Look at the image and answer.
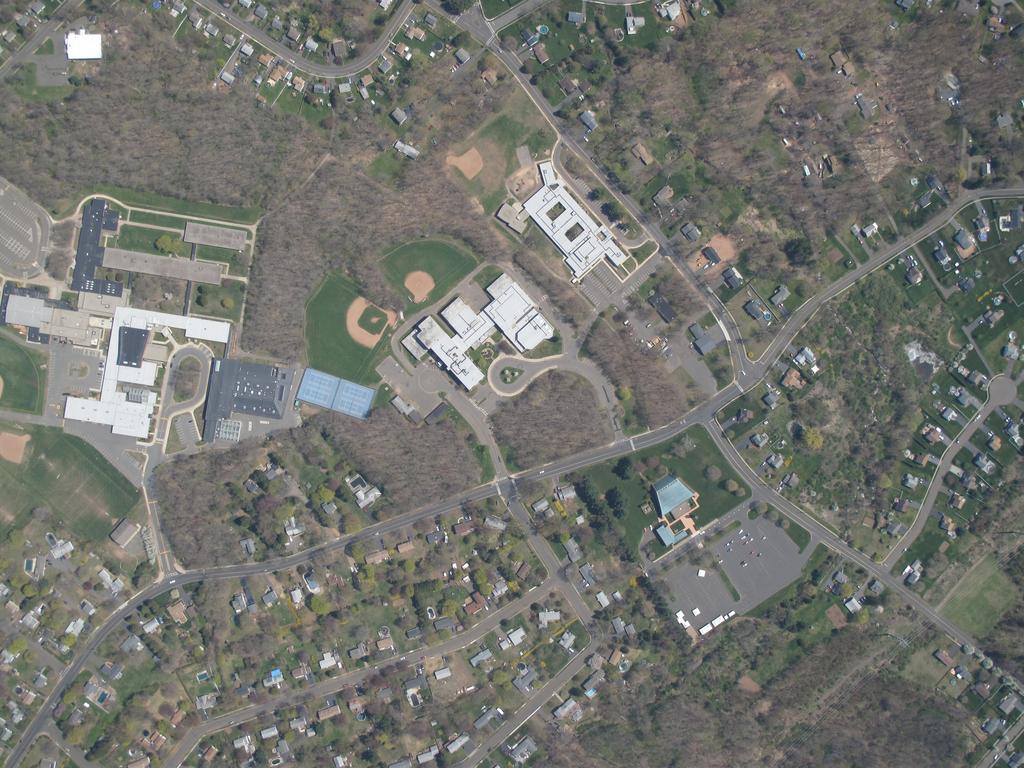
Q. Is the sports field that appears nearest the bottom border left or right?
left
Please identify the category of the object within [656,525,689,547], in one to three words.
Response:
building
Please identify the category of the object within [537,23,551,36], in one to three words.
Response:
swimming pool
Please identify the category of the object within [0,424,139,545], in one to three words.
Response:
sports field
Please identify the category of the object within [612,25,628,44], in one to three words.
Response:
swimming pool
